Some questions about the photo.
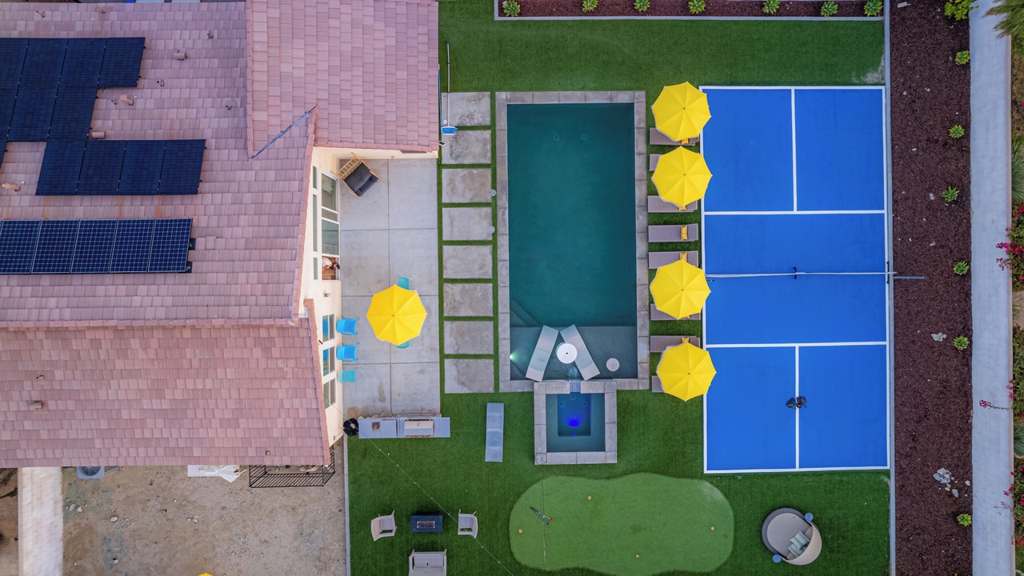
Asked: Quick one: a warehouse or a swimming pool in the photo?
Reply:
swimming pool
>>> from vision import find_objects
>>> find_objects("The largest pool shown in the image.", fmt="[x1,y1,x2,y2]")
[496,91,649,392]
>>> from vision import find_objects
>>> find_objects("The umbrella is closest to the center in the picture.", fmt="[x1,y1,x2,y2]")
[367,284,430,346]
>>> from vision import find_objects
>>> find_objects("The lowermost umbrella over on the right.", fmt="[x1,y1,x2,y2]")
[653,341,716,403]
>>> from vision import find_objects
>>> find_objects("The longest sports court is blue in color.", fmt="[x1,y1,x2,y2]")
[700,86,890,473]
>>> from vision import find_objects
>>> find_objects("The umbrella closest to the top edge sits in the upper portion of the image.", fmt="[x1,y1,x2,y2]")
[650,82,712,144]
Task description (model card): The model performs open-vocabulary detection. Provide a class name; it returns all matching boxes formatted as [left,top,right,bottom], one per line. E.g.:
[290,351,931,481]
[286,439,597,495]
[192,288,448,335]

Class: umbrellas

[649,259,712,322]
[653,341,716,403]
[650,82,712,144]
[652,146,714,208]
[367,284,430,346]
